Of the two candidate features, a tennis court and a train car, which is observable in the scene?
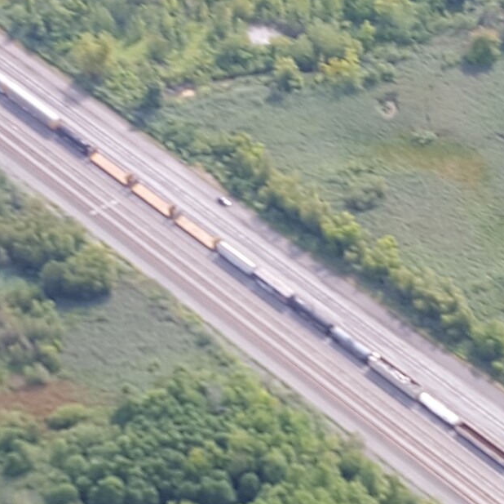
train car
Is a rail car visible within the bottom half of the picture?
Yes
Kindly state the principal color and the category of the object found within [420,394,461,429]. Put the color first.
white rail car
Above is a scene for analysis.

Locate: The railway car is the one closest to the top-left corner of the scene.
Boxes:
[58,125,93,155]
